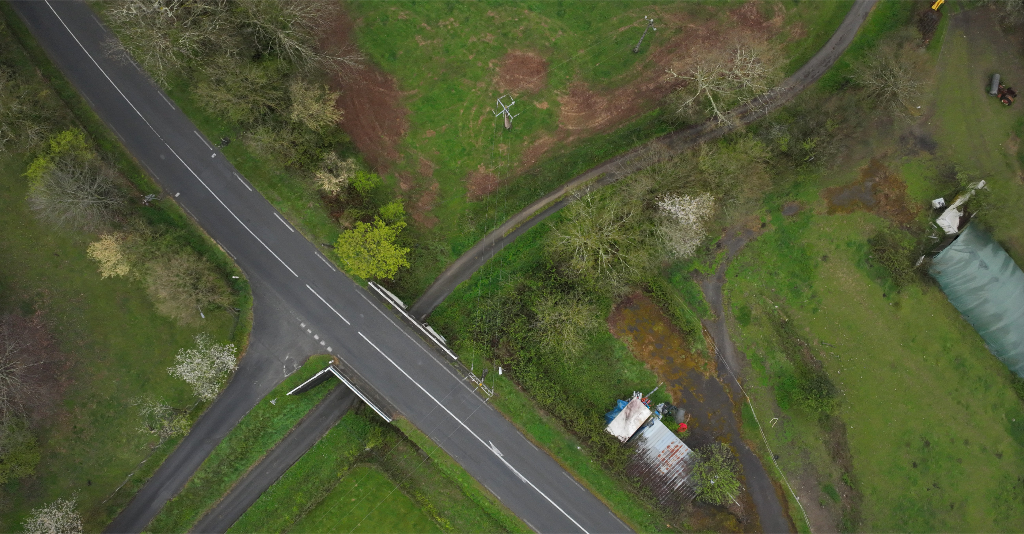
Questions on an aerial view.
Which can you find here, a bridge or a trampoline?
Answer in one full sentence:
The image shows a bridge.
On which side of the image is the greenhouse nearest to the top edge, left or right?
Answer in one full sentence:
The greenhouse nearest to the top edge is on the right side of the image.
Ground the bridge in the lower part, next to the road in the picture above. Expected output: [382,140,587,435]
[322,278,488,421]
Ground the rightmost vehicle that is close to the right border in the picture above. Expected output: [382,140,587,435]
[1000,79,1022,104]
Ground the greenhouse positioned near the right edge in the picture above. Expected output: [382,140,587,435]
[924,224,1024,385]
